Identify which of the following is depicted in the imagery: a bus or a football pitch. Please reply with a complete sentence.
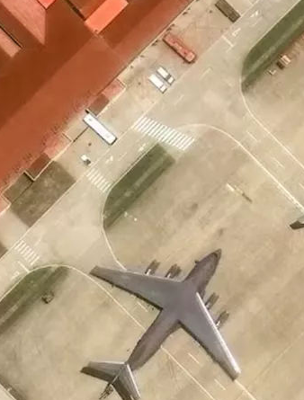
I can see a bus in this picture.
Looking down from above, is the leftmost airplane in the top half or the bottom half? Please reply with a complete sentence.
The leftmost airplane sits in the bottom half of the picture.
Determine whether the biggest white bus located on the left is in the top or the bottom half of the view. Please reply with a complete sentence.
The top half of the photo is where the biggest white bus located on the left is.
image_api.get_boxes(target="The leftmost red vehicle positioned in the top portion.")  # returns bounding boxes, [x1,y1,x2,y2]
[162,33,196,65]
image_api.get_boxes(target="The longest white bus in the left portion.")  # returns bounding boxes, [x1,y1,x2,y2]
[82,113,117,146]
